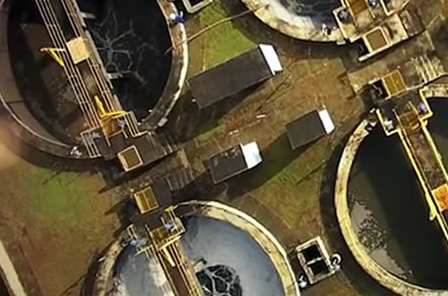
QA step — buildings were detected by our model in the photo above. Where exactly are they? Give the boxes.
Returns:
[209,142,259,185]
[188,47,282,108]
[285,109,331,150]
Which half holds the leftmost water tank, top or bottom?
top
